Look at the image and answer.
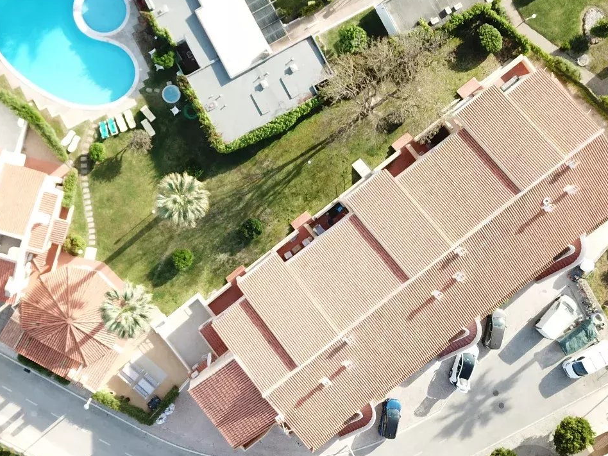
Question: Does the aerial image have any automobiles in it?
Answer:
Yes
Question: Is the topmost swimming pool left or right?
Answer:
left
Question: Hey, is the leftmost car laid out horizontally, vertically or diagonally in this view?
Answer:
vertically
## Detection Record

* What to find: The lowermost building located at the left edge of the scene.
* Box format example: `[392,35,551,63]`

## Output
[0,260,127,394]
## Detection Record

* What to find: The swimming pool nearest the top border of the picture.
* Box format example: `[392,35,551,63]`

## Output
[80,0,131,36]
